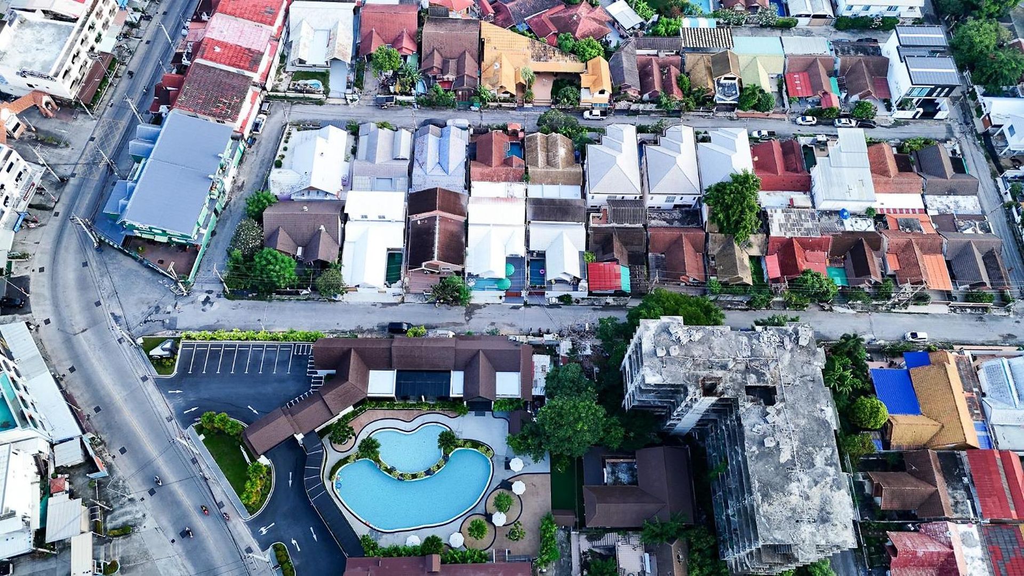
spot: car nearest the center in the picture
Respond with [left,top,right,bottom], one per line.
[386,321,413,334]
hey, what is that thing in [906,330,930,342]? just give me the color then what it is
white vehicle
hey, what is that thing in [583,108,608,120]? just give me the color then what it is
white vehicle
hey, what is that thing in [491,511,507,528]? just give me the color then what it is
white umbrella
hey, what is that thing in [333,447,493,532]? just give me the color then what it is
blue swimming pool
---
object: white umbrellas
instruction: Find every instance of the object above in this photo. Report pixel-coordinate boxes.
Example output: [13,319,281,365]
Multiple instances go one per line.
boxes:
[449,532,465,549]
[511,479,527,496]
[508,457,525,473]
[404,532,421,550]
[491,511,507,528]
